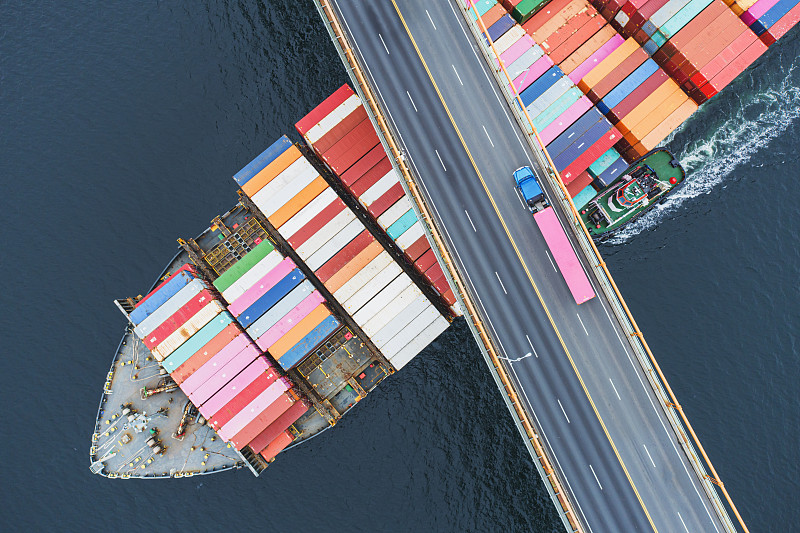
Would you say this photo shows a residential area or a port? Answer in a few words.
port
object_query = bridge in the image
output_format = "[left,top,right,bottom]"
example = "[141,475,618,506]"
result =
[313,0,748,533]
